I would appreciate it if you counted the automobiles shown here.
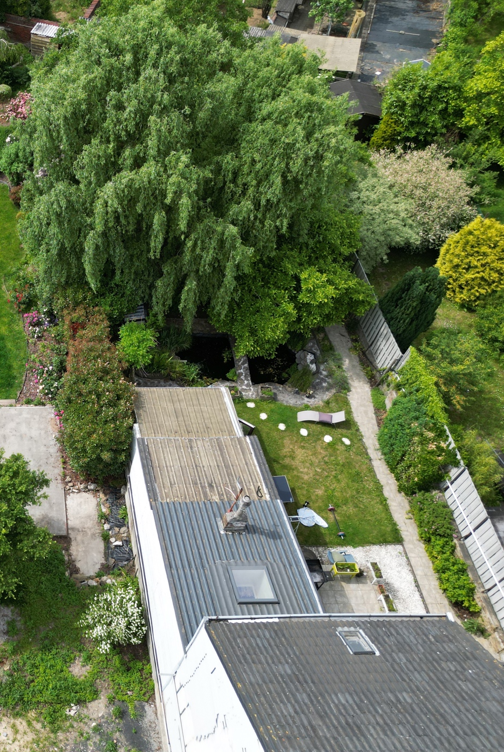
none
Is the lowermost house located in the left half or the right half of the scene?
right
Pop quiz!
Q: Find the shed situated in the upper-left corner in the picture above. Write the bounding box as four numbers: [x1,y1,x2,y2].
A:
[29,22,59,65]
